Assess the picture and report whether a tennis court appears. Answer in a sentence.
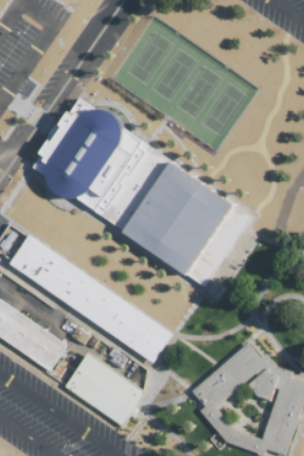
Yes, the photo shows a tennis court.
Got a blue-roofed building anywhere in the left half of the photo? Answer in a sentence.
Yes, a blue-roofed building is visible in the left half of the photo.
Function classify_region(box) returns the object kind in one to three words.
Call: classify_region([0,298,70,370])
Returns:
building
